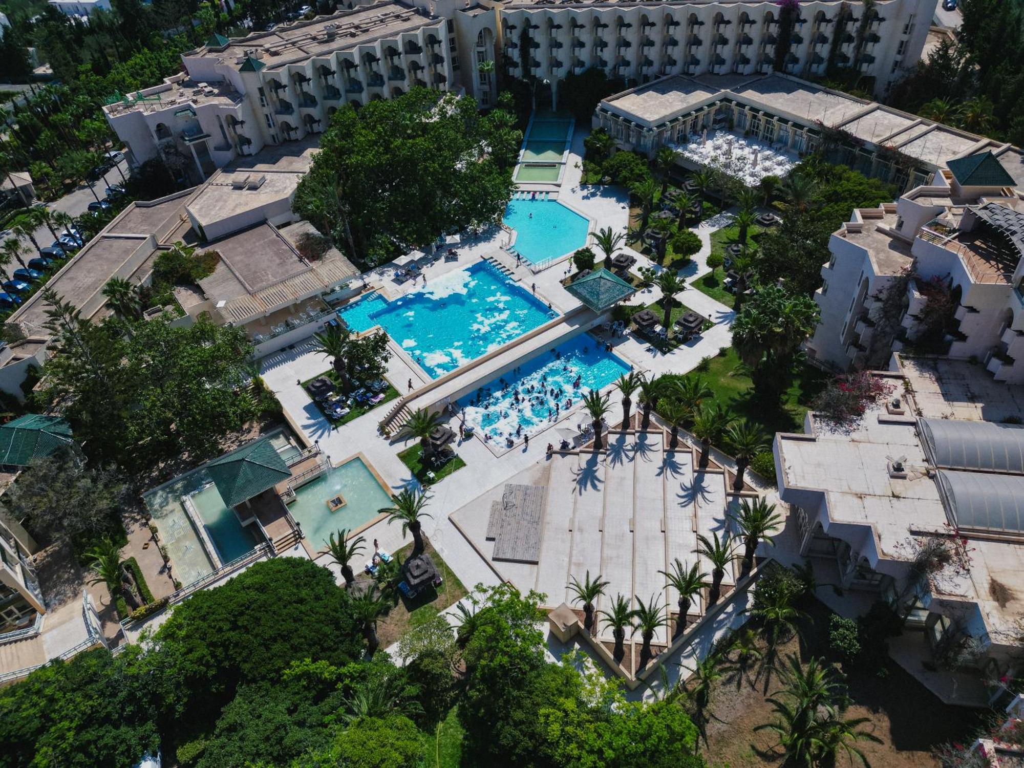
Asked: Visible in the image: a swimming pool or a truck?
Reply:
swimming pool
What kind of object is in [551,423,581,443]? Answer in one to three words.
umbrella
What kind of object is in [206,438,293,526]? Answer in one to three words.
building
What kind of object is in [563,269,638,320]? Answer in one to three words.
building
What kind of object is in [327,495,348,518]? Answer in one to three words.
fountain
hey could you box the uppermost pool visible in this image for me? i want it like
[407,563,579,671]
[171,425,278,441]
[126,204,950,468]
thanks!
[502,192,589,264]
